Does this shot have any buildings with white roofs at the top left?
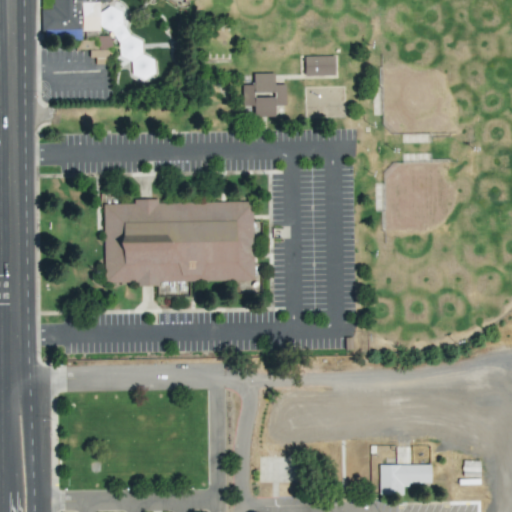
Yes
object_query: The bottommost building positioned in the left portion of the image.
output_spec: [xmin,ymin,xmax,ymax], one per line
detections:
[104,198,256,286]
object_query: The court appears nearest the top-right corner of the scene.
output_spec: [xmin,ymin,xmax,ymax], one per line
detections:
[305,86,346,118]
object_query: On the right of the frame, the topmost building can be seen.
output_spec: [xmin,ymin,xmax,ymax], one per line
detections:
[306,56,337,76]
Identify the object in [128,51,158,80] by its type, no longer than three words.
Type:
building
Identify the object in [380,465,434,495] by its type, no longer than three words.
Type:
building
